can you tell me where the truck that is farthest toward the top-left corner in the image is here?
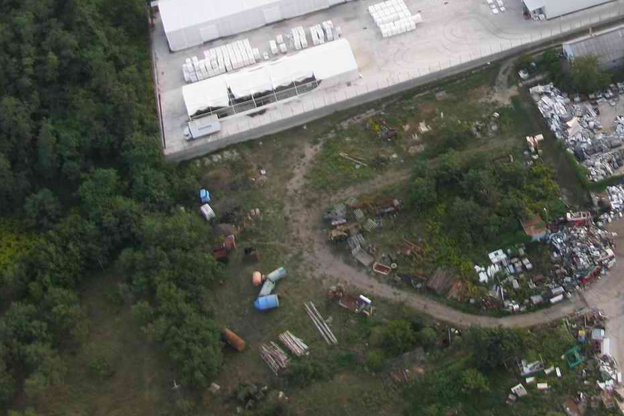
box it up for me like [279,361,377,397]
[184,113,221,139]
